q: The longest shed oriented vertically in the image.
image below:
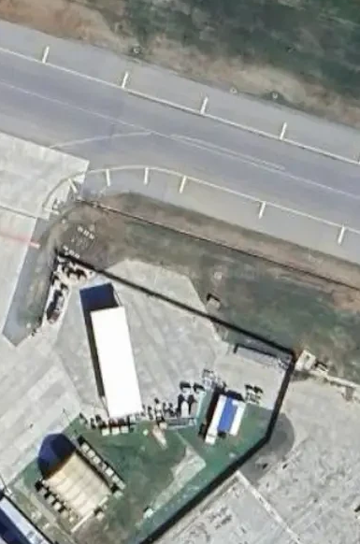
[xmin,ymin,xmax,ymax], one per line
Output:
[89,305,143,418]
